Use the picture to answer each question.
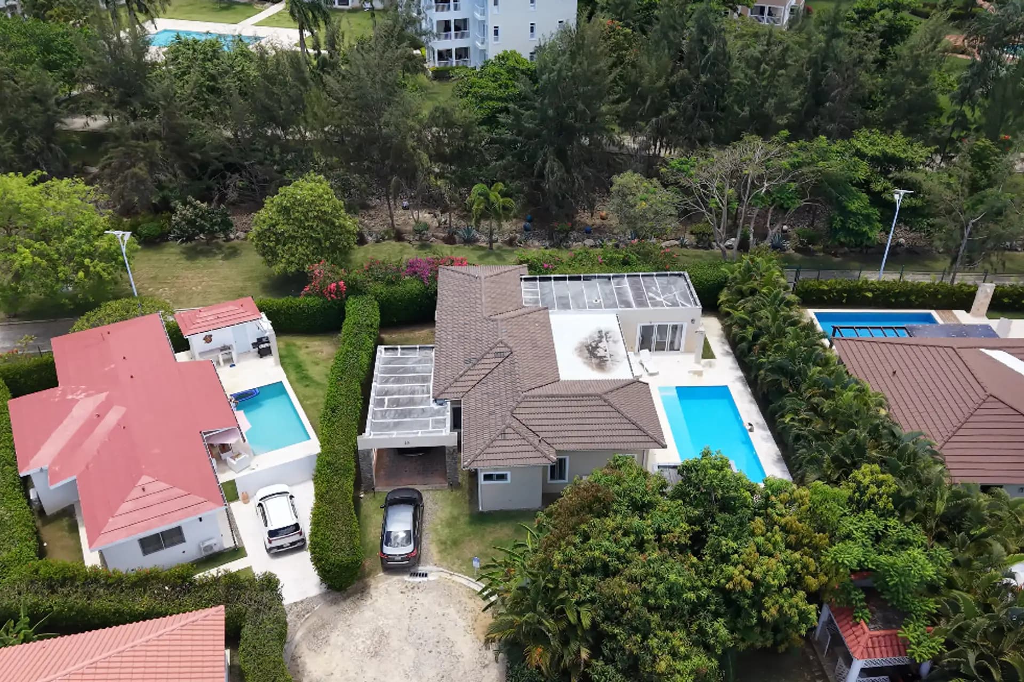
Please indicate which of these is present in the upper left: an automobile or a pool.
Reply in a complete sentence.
There is a pool in the upper left.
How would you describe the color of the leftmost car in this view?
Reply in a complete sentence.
From above, the leftmost car appears white.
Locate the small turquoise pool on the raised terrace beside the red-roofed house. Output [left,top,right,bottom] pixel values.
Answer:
[235,382,310,456]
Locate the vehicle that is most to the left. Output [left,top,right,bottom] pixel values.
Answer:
[255,488,306,566]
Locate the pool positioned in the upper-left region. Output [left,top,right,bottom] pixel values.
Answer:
[150,28,271,54]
